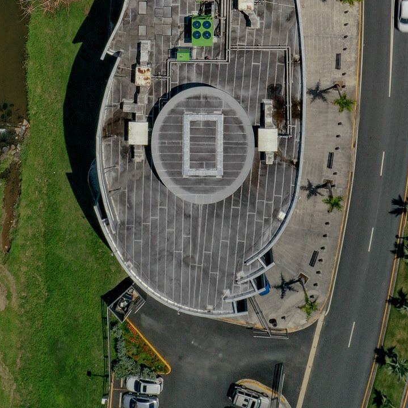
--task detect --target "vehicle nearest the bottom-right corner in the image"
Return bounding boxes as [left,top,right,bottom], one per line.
[228,382,270,408]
